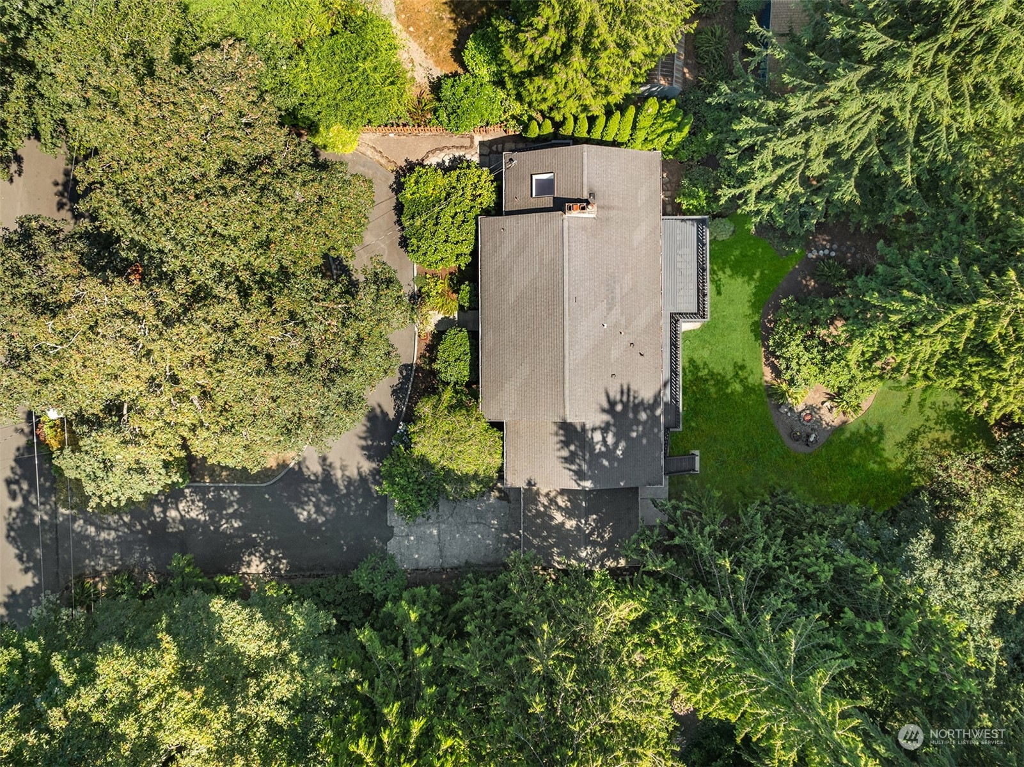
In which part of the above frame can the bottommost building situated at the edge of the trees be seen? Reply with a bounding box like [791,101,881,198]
[477,141,665,574]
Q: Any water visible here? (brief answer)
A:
No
